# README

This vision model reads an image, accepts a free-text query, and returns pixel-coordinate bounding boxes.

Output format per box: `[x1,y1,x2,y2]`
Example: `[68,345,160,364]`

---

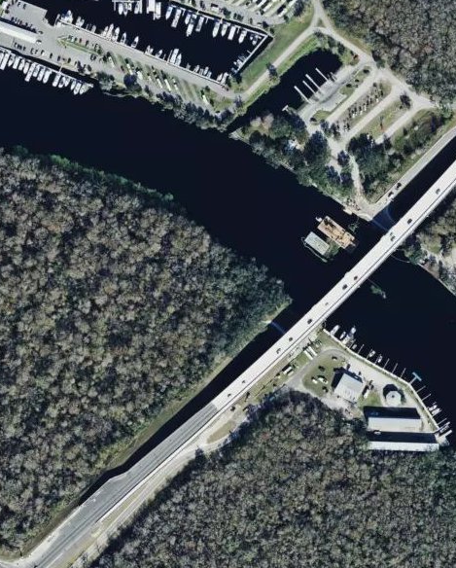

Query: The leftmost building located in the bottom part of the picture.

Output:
[335,374,364,401]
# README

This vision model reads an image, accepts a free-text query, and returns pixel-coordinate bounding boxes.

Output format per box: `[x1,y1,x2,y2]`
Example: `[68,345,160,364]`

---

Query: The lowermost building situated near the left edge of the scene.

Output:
[0,21,38,42]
